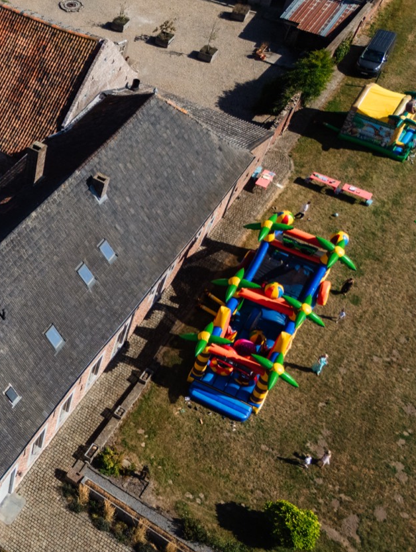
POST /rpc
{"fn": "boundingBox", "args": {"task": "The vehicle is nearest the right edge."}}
[362,24,406,72]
